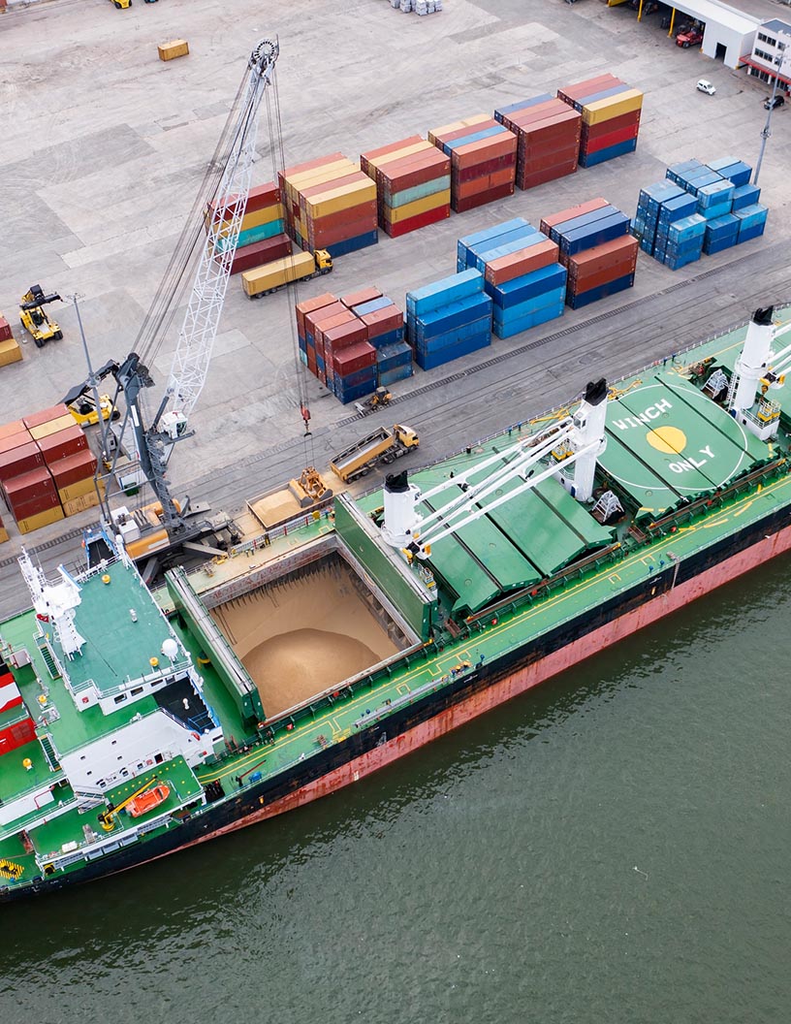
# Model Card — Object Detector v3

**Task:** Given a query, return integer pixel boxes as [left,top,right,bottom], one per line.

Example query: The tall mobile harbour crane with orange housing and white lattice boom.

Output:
[86,34,313,588]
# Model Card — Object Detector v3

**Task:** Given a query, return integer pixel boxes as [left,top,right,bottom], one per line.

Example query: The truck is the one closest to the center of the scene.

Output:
[330,426,421,483]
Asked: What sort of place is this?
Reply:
port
